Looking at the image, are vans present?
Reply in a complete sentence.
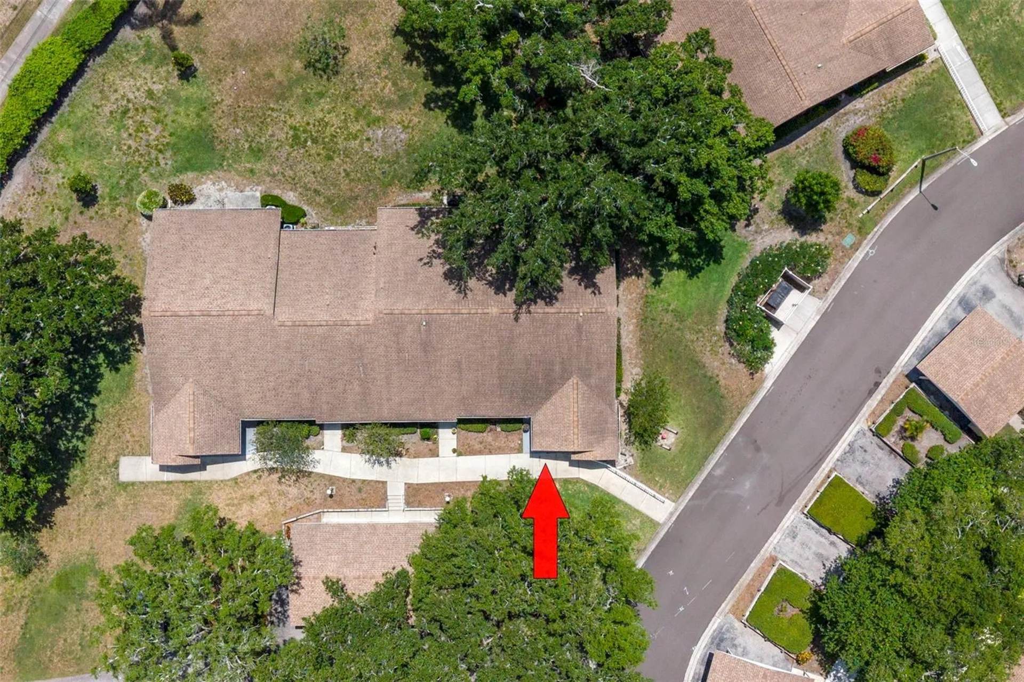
No, the scene contains no van.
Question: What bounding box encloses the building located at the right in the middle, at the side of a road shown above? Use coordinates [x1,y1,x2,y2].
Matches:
[915,306,1024,439]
